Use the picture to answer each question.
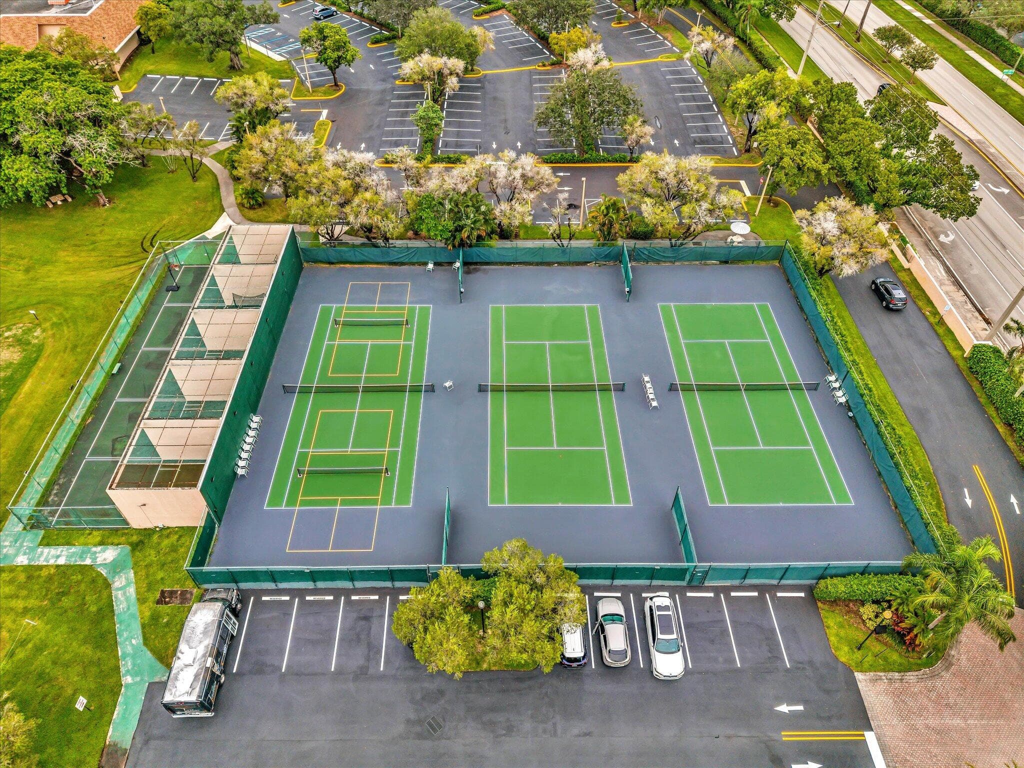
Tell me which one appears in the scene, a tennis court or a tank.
tennis court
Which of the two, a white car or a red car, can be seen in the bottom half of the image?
white car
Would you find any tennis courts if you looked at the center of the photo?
Yes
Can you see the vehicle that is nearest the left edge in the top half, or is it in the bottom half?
bottom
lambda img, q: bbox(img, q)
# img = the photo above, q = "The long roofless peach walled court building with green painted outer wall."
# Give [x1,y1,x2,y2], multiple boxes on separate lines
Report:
[102,227,304,527]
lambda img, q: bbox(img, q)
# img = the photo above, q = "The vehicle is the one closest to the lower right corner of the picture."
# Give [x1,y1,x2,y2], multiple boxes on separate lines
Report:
[642,597,688,680]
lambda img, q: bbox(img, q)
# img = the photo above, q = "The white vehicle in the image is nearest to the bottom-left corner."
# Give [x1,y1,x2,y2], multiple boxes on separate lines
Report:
[162,589,244,719]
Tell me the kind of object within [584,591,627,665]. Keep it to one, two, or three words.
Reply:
car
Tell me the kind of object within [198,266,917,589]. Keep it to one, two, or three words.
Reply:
tennis court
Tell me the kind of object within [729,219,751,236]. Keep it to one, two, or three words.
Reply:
umbrella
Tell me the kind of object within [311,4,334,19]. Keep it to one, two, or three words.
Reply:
car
